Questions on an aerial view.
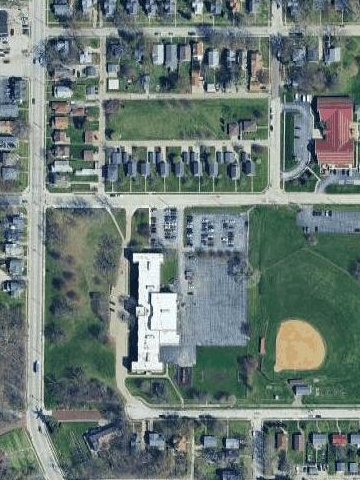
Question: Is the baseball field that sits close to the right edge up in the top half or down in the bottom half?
bottom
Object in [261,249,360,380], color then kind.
green baseball field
